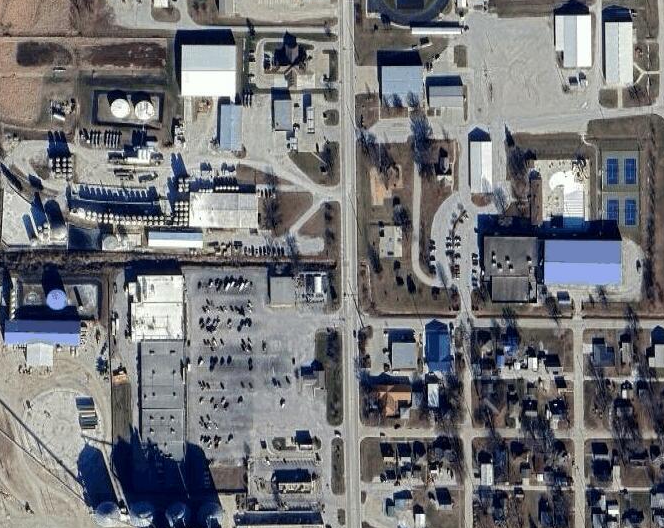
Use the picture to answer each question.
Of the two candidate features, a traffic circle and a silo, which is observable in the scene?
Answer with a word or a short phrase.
silo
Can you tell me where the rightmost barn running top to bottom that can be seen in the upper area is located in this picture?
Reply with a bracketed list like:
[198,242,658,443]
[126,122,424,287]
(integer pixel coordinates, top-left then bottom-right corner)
[605,22,633,86]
